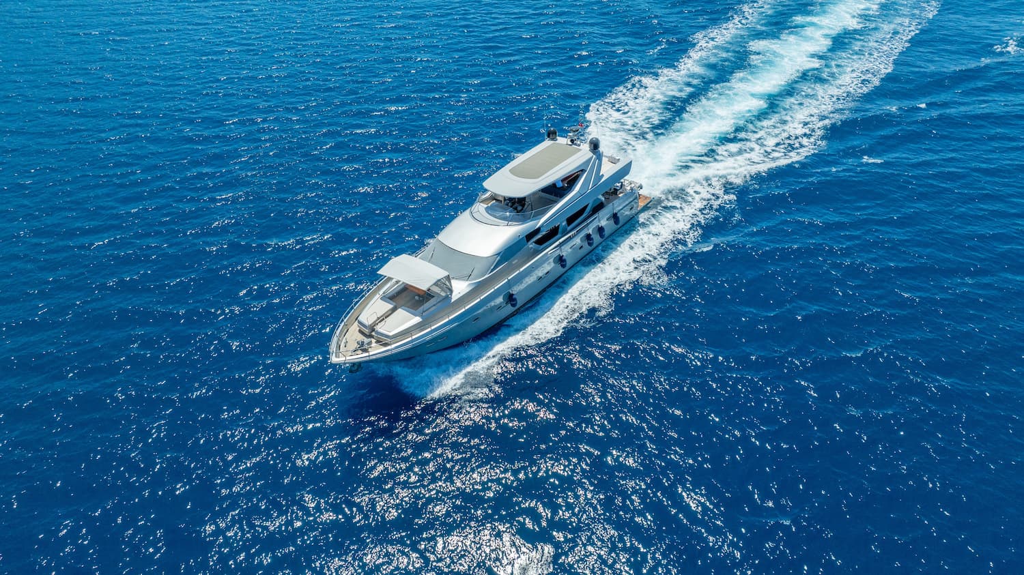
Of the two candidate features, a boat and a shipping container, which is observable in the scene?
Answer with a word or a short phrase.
boat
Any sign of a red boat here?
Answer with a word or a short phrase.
No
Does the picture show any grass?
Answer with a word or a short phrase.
No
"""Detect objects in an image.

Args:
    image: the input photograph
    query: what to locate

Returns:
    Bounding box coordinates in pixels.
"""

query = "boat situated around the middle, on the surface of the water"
[328,119,650,378]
